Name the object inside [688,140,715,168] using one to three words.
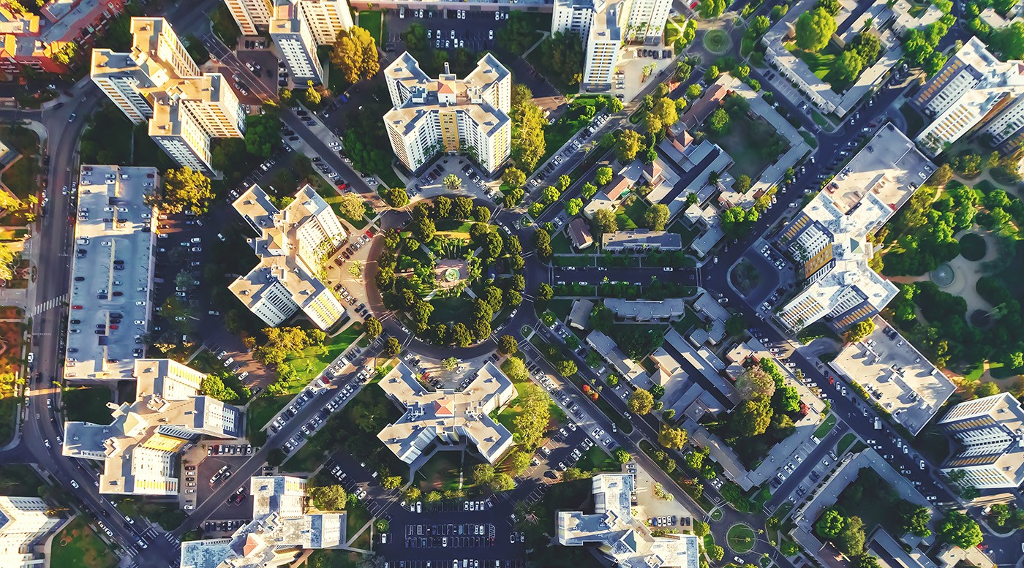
building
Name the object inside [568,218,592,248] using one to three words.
building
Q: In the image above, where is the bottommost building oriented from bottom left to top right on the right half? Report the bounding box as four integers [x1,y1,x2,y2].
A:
[790,449,872,530]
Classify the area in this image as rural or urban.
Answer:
urban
